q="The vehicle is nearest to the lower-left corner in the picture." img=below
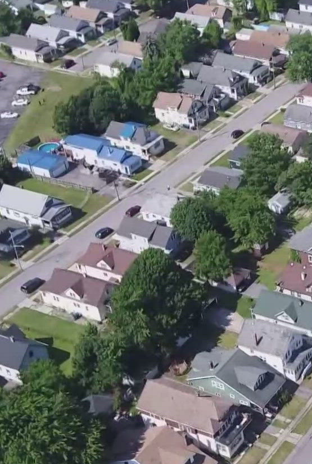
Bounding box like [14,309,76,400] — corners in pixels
[19,274,45,295]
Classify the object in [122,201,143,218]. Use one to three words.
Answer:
car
